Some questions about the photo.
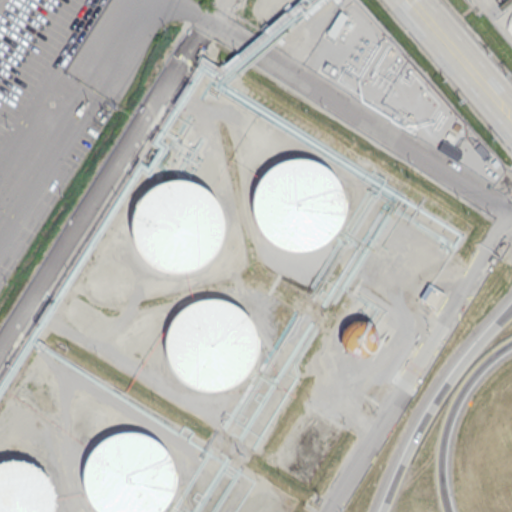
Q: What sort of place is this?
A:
industrial area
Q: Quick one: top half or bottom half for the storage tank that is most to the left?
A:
bottom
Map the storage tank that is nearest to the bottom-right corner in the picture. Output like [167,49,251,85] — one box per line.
[342,320,390,358]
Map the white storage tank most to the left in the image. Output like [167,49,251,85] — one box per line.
[0,458,62,512]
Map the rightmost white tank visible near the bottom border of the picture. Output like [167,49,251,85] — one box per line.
[84,430,180,512]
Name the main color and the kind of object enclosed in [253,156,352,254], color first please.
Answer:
white storage tank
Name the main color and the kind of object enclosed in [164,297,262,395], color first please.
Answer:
white storage tank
